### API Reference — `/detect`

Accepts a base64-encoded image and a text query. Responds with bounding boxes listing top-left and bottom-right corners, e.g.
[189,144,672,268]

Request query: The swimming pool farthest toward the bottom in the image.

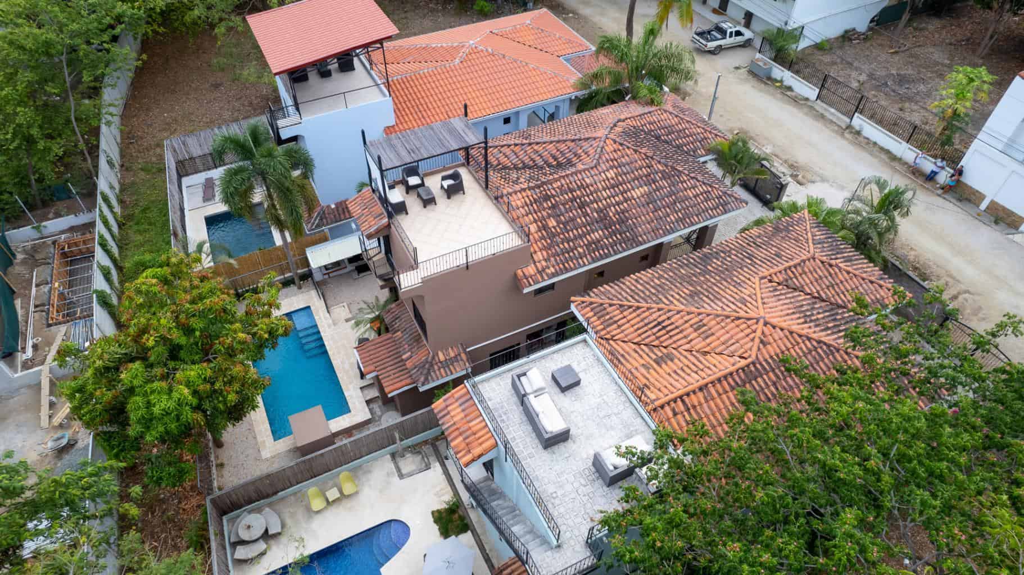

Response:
[267,516,410,575]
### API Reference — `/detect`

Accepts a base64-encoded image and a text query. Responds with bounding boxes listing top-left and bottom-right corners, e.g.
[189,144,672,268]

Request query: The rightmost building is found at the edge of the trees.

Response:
[949,77,1024,234]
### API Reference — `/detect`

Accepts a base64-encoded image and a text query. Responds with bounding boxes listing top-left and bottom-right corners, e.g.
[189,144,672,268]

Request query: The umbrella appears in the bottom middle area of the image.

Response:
[422,534,480,575]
